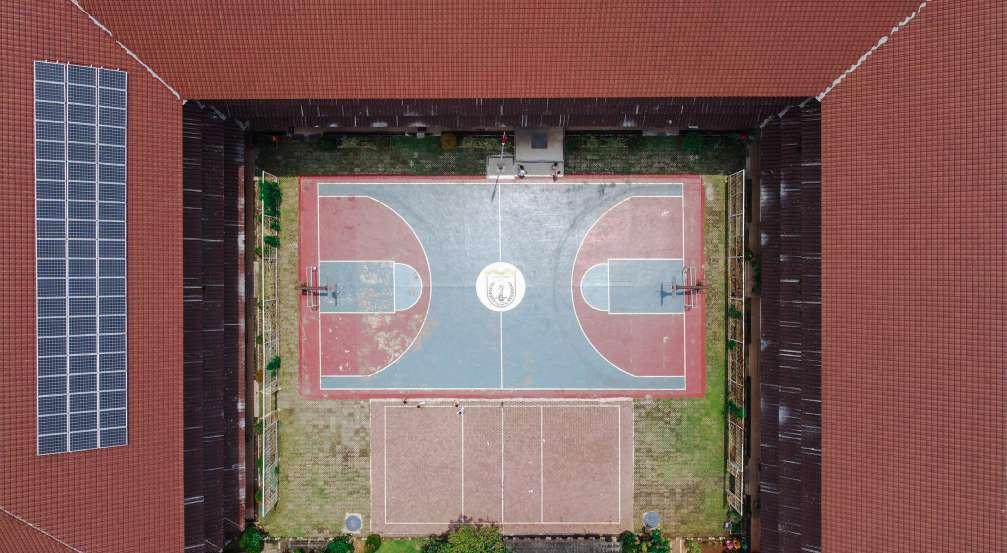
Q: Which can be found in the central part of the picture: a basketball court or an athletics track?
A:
basketball court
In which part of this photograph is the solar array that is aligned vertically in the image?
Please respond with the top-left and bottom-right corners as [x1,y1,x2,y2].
[33,60,127,457]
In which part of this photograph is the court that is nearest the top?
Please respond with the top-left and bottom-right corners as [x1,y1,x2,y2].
[299,175,705,399]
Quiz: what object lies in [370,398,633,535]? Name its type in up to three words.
sports court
